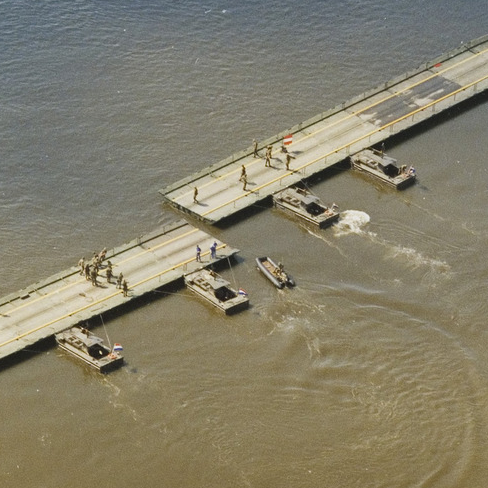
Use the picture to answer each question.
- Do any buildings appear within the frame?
No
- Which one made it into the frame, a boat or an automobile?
boat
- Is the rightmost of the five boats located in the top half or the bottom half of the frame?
top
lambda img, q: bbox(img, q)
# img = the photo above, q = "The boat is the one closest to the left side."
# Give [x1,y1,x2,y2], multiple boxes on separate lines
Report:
[63,314,127,378]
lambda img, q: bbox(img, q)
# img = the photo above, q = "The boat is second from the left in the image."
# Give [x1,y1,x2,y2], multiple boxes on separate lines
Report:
[189,258,253,317]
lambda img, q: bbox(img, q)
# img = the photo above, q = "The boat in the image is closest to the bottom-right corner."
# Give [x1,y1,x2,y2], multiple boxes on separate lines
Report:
[256,255,295,290]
